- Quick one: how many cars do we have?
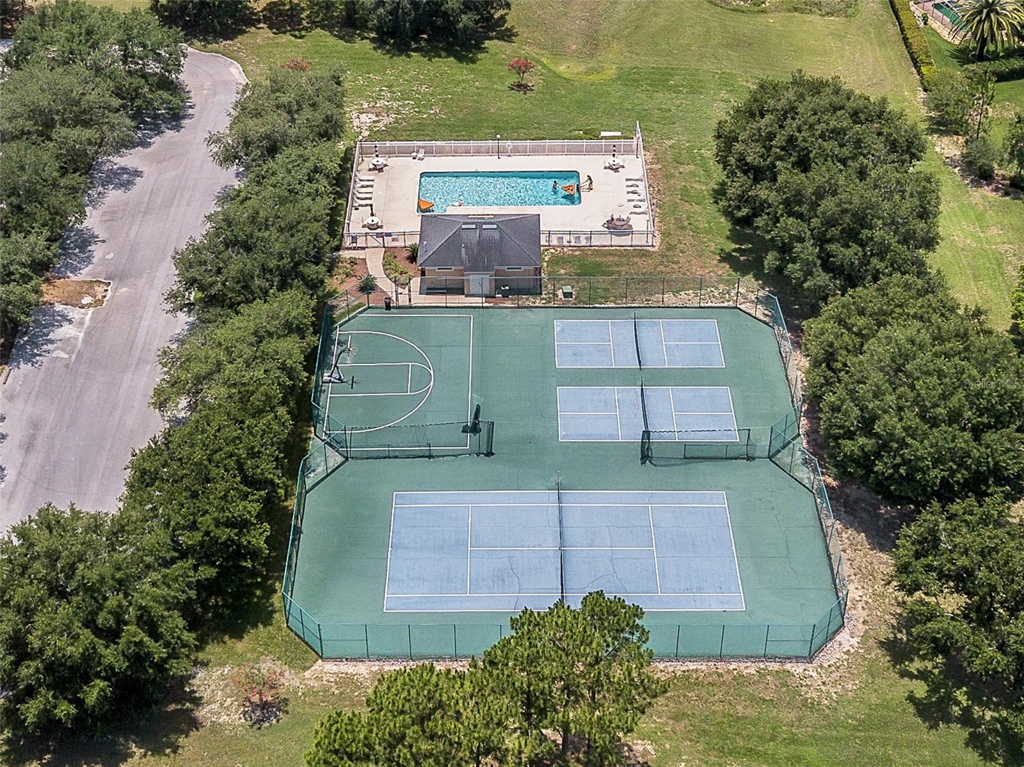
none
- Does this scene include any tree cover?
Yes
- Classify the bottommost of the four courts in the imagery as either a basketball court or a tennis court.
tennis court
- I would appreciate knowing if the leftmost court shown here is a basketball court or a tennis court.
basketball court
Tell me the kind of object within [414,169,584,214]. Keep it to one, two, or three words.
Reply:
swimming pool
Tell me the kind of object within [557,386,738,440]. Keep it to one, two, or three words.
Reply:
sports court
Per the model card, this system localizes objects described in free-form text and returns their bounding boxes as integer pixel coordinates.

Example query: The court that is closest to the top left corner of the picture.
[320,314,473,449]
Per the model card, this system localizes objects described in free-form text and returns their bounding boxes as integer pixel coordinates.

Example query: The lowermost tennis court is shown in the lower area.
[383,490,745,611]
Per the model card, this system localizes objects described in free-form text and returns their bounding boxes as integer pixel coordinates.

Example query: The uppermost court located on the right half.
[554,319,725,367]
